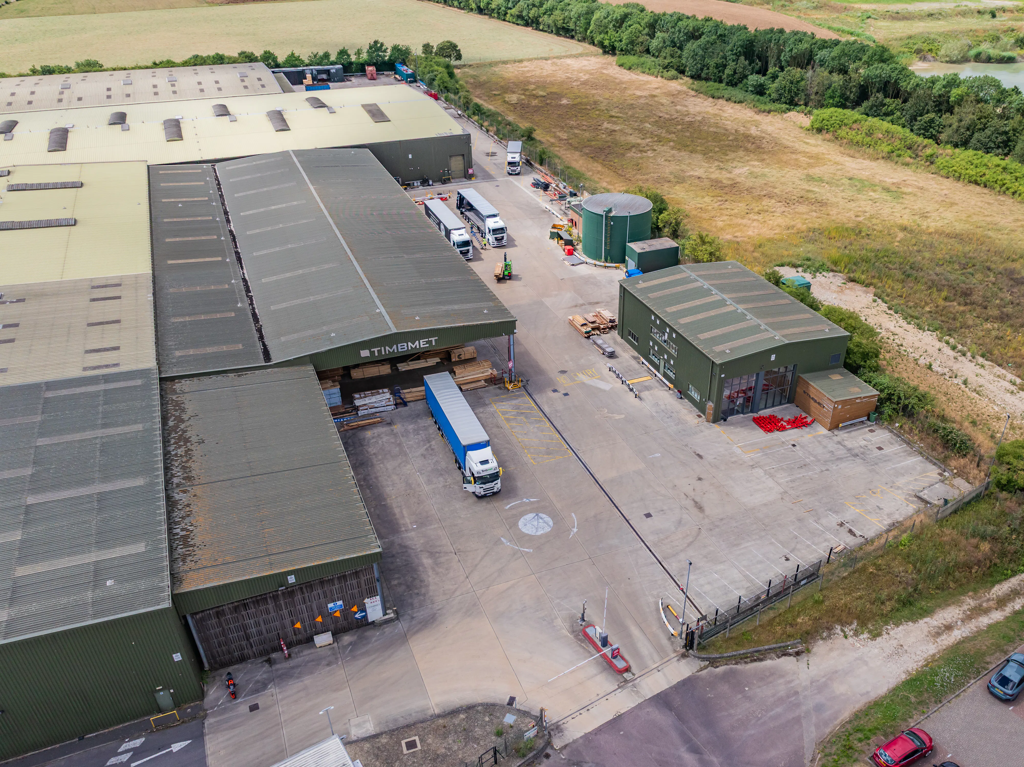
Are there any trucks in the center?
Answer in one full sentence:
Yes, you'll find a truck in the center.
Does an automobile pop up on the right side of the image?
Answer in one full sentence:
Yes, on the right side of the image there is an automobile.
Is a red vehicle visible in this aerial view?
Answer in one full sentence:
Yes, there's a red vehicle here.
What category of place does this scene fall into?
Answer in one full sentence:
This looks like an industrial area.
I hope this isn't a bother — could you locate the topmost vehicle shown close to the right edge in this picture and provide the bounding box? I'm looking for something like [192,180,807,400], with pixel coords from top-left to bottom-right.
[984,656,1024,703]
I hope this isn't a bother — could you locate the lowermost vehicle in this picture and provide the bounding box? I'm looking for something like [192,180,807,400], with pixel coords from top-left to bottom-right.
[870,726,937,767]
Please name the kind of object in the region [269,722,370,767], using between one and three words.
building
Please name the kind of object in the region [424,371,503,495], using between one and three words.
truck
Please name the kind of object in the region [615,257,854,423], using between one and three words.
building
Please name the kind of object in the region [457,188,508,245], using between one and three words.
truck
